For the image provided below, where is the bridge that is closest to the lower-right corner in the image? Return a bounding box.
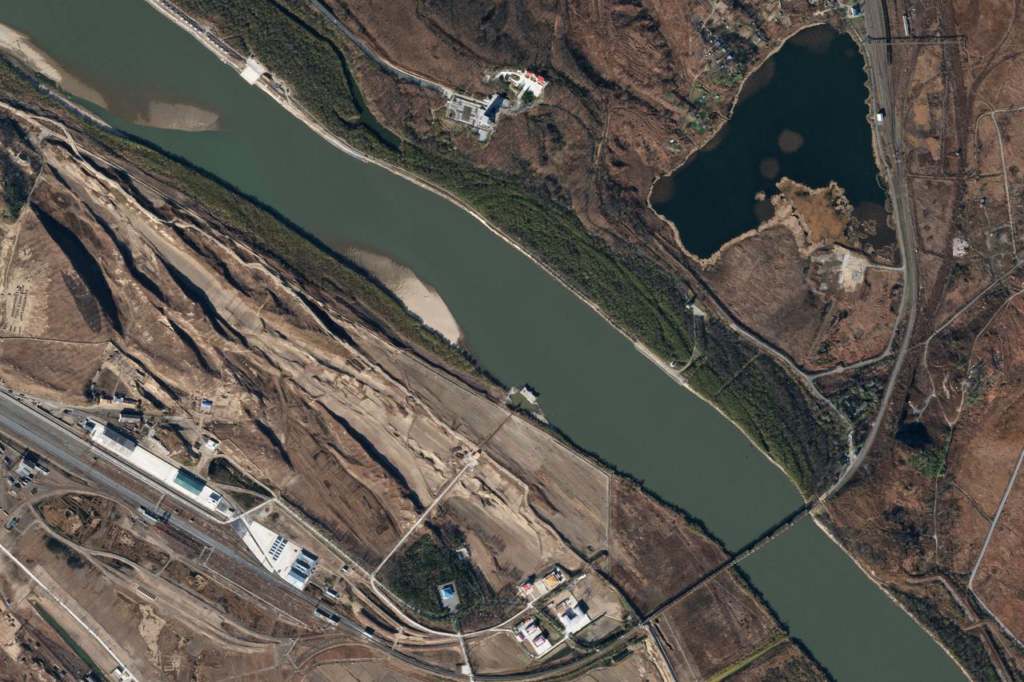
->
[642,503,820,624]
